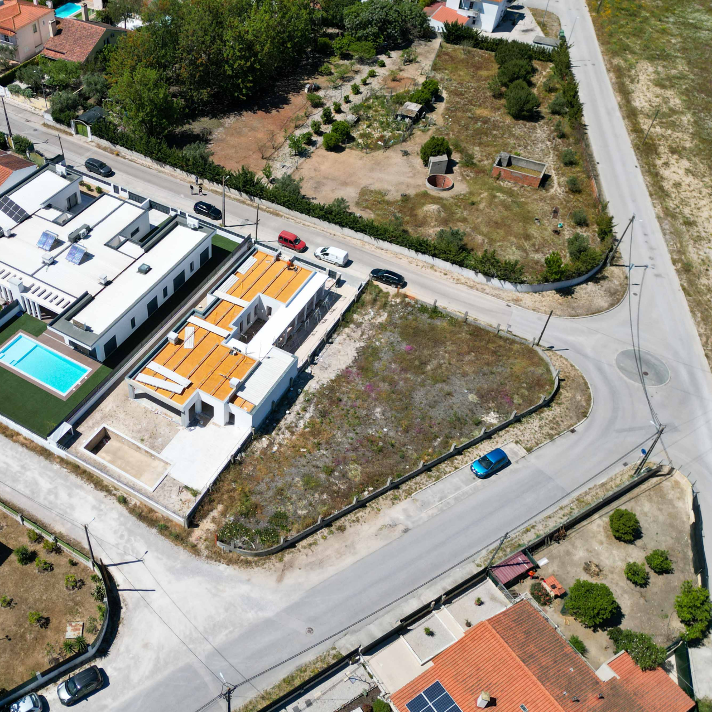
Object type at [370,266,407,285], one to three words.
car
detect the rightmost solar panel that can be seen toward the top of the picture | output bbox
[66,242,86,265]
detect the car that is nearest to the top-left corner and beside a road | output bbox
[82,151,114,175]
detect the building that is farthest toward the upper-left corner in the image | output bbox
[0,0,53,60]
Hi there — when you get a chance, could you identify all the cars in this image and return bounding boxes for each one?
[370,266,407,285]
[54,661,107,707]
[277,222,307,249]
[192,194,222,216]
[0,687,43,712]
[82,151,114,175]
[469,442,516,478]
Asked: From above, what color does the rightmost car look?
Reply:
blue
